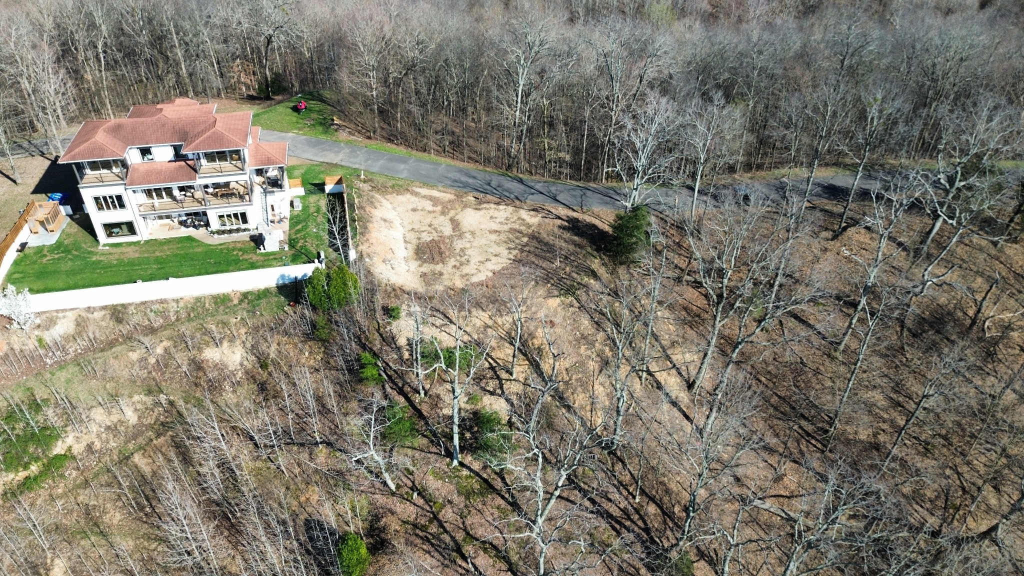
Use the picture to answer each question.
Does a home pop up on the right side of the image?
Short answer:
No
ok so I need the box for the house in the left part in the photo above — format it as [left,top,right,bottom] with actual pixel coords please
[54,93,291,243]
